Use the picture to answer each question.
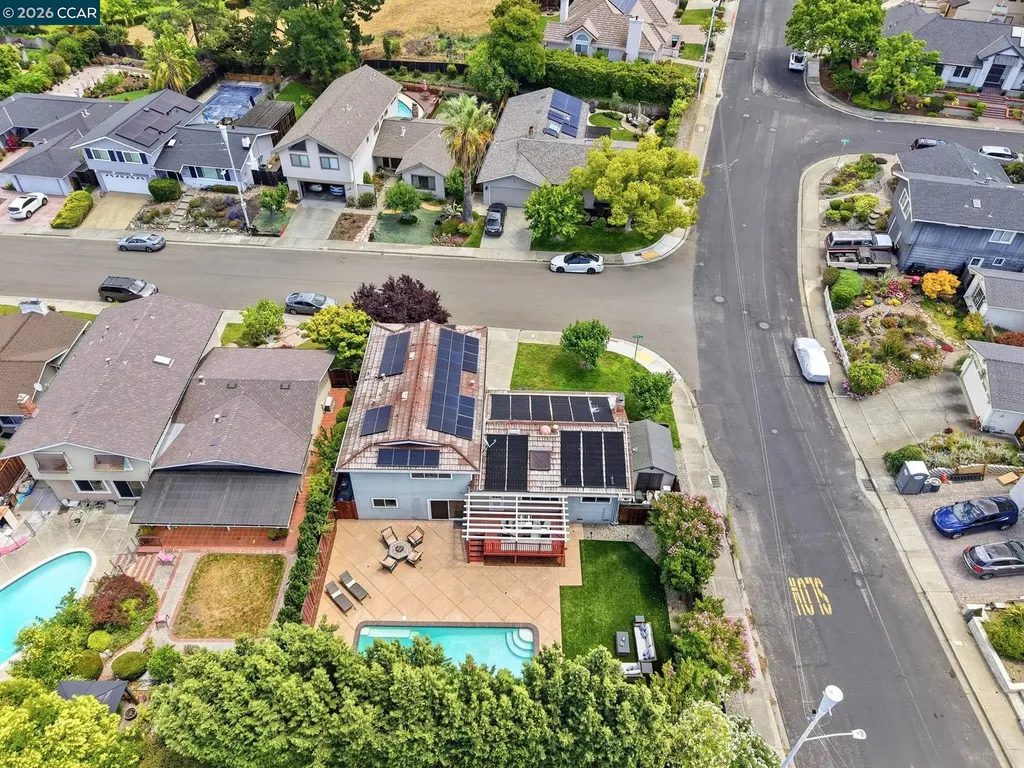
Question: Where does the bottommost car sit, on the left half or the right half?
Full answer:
The bottommost car is on the right side of the image.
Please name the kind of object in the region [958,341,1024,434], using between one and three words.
building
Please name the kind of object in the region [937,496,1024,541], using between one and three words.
car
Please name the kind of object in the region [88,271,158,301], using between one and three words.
car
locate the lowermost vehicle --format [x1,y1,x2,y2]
[966,539,1024,585]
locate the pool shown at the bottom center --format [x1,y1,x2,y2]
[358,628,532,695]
